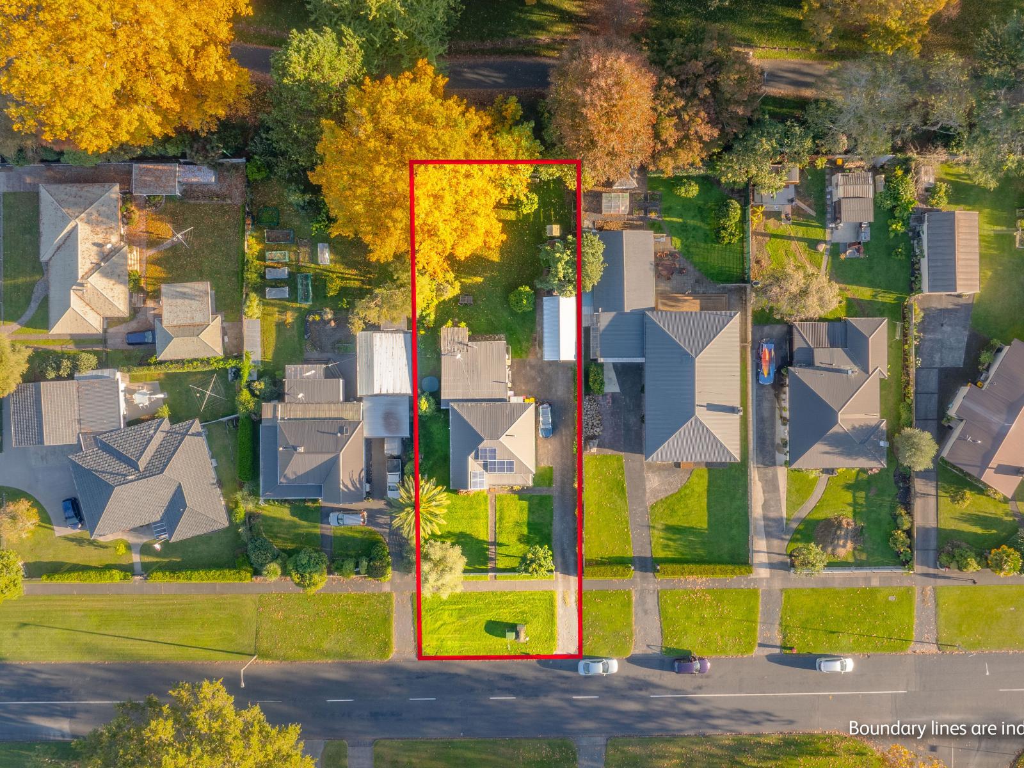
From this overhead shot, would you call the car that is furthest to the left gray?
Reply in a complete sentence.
No, the color of the car that is furthest to the left is blue.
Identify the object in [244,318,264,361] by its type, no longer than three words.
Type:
shed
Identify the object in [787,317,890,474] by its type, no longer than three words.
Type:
house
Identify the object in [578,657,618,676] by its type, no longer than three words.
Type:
car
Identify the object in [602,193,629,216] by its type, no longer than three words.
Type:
greenhouse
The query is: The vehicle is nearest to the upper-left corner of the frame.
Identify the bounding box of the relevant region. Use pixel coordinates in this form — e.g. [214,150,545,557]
[126,329,156,346]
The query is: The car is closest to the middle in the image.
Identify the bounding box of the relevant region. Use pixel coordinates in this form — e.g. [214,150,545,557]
[536,399,554,440]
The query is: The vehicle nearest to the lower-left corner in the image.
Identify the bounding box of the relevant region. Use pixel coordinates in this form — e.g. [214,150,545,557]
[61,494,86,531]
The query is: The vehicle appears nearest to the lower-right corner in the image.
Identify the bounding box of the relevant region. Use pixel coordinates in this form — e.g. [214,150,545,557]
[816,656,853,675]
